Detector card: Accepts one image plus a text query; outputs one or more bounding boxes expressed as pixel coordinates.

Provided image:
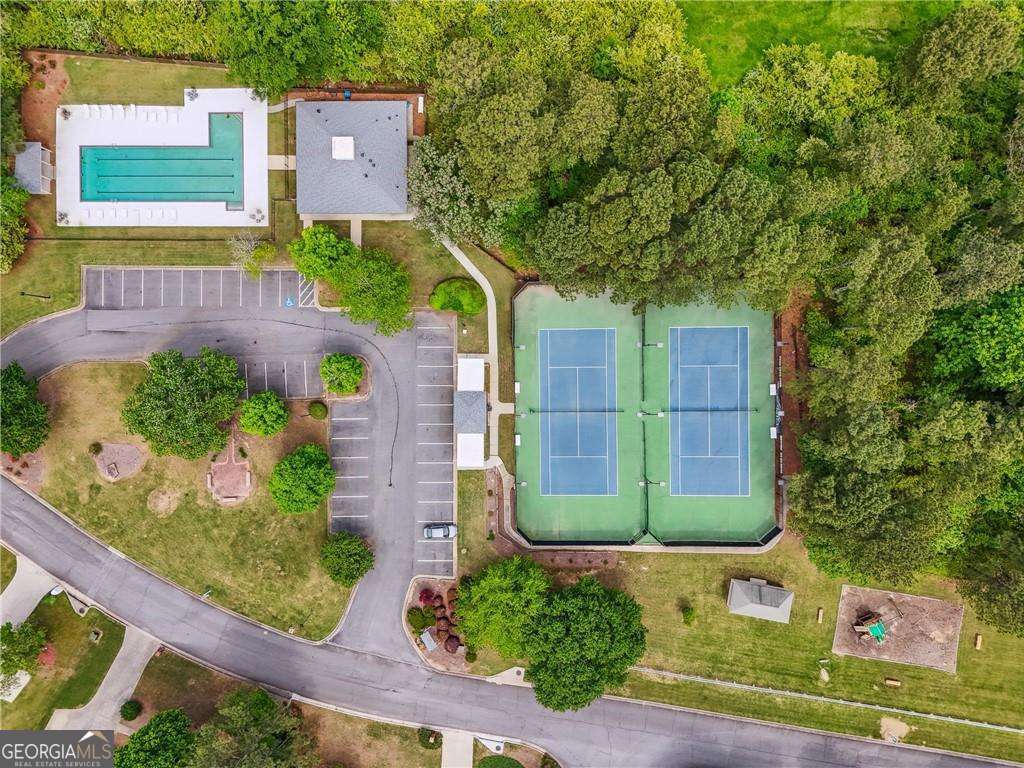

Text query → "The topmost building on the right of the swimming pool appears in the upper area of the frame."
[295,99,408,215]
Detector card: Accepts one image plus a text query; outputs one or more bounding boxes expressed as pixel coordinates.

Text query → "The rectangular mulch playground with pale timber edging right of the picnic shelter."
[832,585,964,674]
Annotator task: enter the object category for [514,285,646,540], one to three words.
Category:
tennis court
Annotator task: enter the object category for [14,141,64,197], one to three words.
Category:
shed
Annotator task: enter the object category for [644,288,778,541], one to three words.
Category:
tennis court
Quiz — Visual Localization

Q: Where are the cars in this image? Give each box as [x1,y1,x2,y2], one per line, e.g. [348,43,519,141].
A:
[424,524,457,540]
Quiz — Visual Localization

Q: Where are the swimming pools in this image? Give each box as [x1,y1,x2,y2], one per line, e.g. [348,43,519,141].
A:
[56,89,268,226]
